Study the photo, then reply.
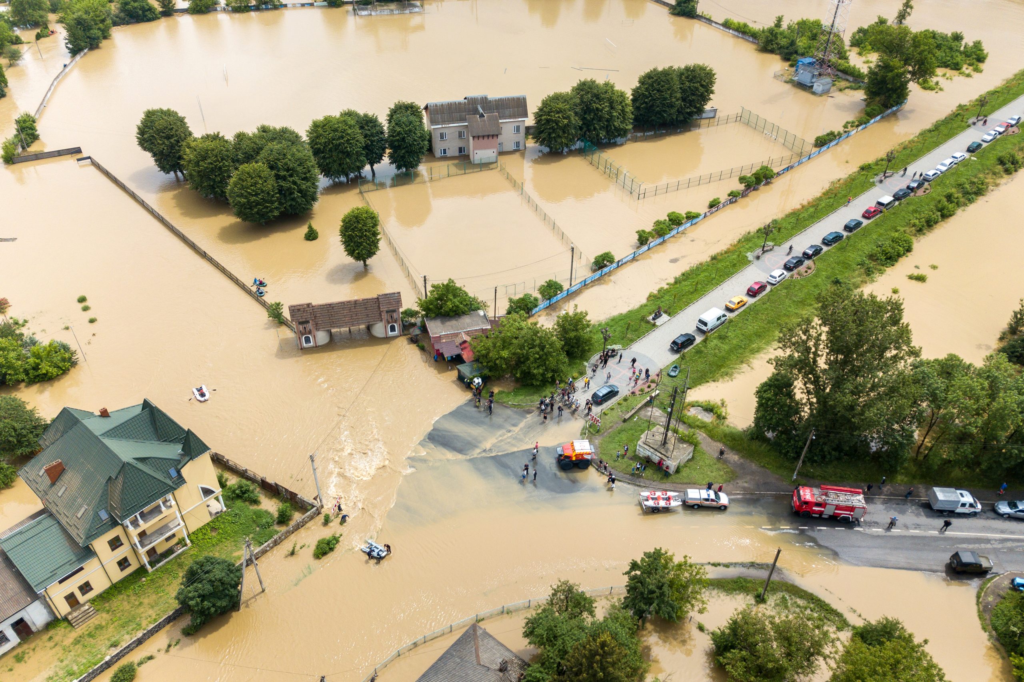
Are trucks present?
Yes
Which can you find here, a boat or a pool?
boat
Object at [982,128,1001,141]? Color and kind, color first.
white vehicle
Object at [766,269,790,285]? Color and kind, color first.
white car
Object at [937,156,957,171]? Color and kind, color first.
white car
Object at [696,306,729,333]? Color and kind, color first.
white vehicle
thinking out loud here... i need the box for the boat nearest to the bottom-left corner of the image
[184,383,213,401]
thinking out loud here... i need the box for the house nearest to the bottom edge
[418,623,547,682]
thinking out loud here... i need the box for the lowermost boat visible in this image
[357,538,393,562]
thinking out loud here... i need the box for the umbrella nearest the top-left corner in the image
[407,326,421,344]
